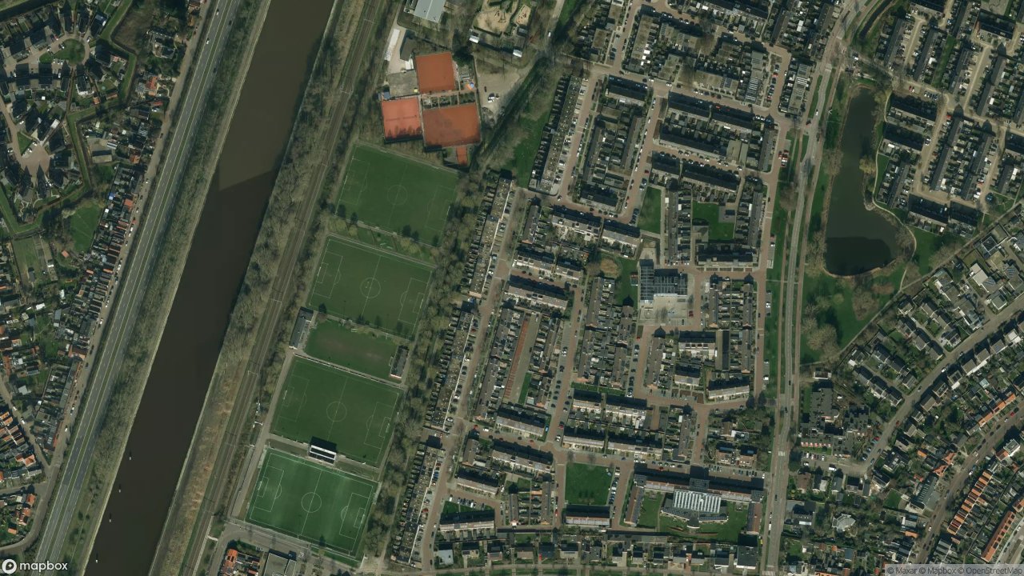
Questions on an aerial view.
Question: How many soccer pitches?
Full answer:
Looking from above, you can make out 5 soccer pitches.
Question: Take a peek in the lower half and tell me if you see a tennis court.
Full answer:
No, in the lower half there is no tennis court.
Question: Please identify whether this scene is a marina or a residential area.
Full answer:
What you see here is a residential area.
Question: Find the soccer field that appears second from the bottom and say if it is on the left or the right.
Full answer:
You can find the soccer field that appears second from the bottom on the left side of the picture.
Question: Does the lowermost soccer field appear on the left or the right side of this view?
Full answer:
It is on the left.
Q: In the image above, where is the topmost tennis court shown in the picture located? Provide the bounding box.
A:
[415,52,454,93]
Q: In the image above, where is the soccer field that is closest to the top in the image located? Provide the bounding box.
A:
[334,143,459,248]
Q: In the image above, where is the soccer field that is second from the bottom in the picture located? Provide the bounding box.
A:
[273,359,401,465]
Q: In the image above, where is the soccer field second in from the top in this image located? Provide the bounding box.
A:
[307,238,434,335]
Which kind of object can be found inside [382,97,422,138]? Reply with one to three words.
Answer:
tennis court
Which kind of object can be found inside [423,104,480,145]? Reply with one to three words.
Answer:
tennis court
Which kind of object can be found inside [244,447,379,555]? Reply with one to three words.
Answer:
soccer field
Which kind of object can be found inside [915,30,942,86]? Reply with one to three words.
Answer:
house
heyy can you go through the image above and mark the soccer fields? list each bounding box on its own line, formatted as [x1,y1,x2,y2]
[307,238,434,335]
[273,359,401,465]
[334,143,459,248]
[304,319,399,377]
[244,447,379,555]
